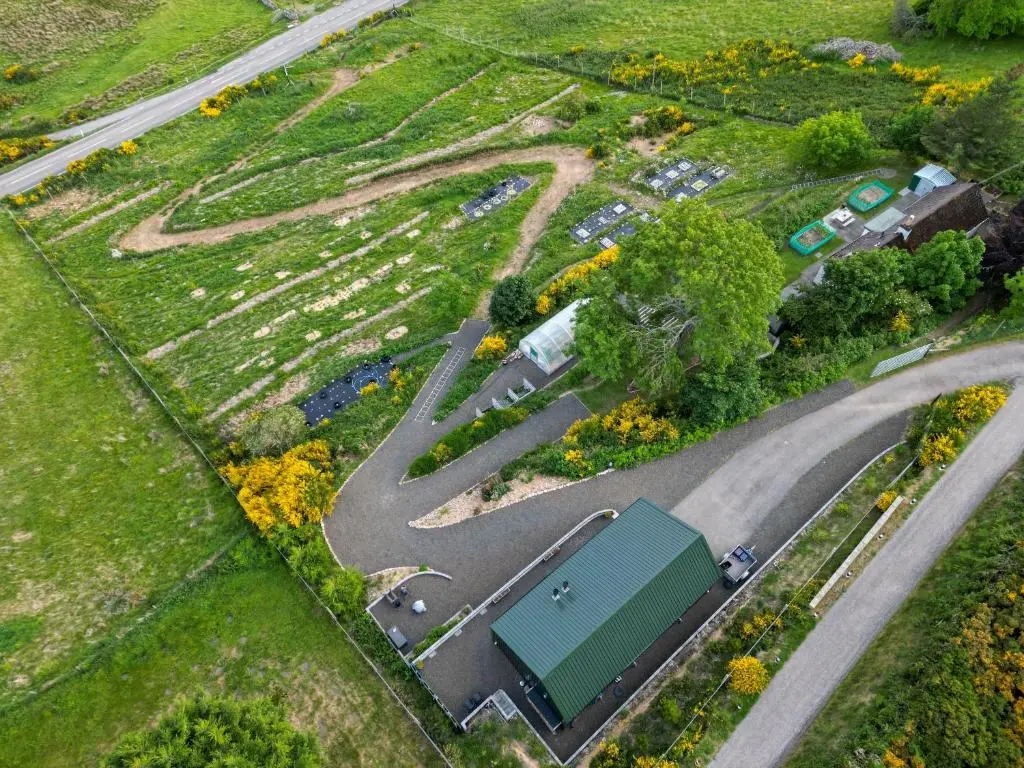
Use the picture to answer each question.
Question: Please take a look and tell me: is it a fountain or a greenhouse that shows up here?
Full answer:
Visible in the photo is a greenhouse.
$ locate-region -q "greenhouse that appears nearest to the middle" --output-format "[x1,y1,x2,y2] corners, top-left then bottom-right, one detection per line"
[517,292,595,374]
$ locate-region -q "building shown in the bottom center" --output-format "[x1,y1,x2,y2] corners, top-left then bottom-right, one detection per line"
[490,498,722,730]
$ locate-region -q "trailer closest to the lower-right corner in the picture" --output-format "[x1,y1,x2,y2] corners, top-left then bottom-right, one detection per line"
[717,543,757,584]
